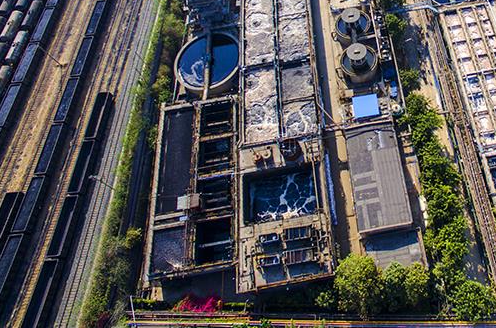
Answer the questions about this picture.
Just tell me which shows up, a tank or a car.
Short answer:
tank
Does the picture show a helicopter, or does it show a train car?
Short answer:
train car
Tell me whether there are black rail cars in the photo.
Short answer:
Yes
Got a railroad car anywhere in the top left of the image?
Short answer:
Yes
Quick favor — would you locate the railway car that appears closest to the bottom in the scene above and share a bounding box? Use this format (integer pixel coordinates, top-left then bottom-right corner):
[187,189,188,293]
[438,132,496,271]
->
[20,304,48,328]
